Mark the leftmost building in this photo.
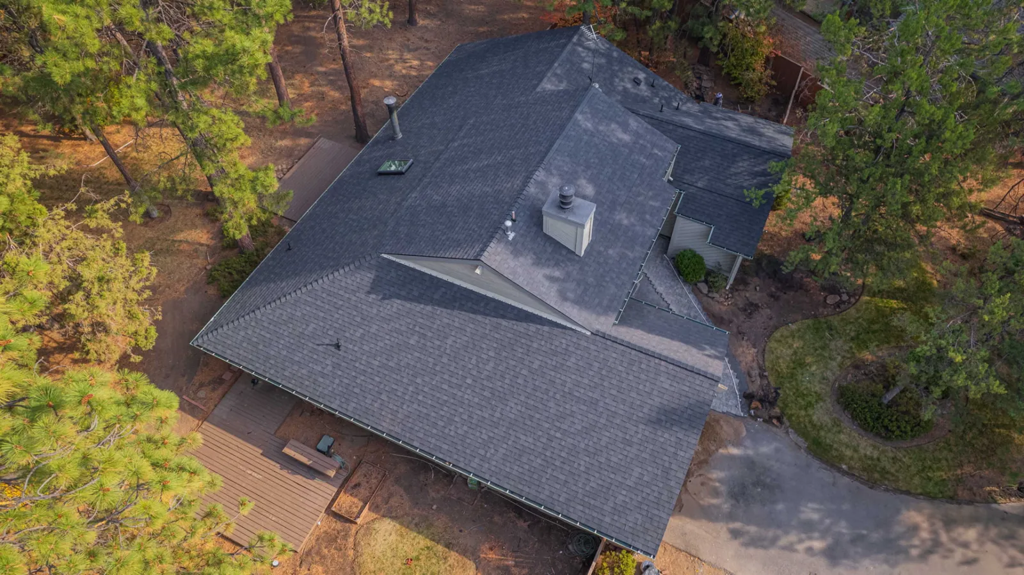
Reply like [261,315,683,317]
[188,21,796,563]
